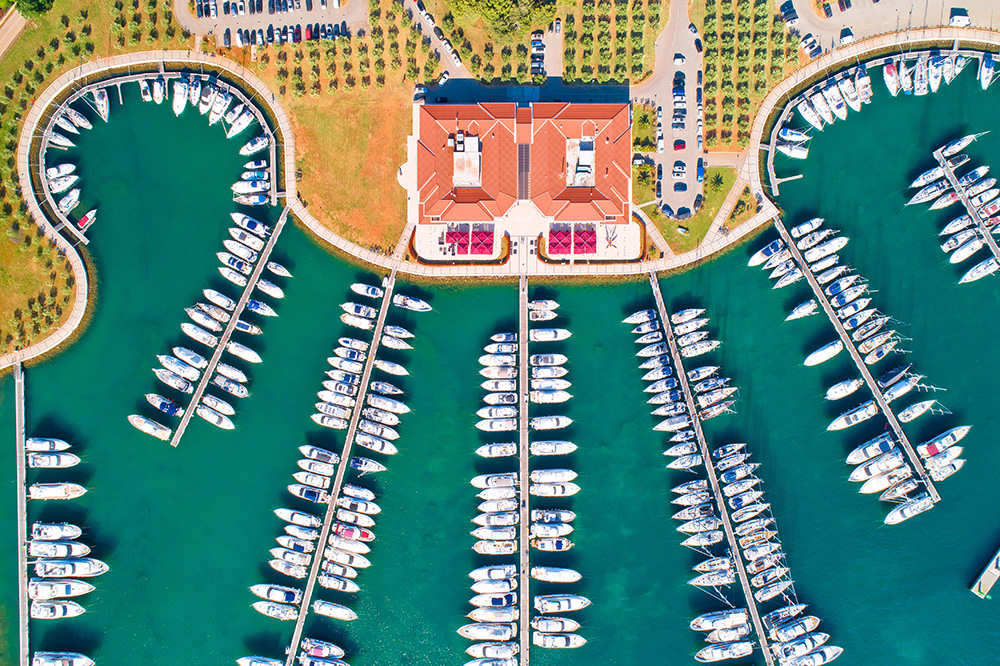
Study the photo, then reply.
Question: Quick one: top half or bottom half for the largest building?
top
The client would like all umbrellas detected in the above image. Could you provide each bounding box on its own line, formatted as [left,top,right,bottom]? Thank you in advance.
[549,242,561,254]
[458,242,470,254]
[585,231,597,242]
[573,231,585,242]
[446,231,458,243]
[471,231,482,242]
[458,231,470,242]
[573,242,585,254]
[471,242,482,254]
[561,231,571,242]
[561,242,571,254]
[482,242,494,254]
[585,242,597,254]
[549,231,561,242]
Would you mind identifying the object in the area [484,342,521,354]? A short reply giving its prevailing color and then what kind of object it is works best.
white boat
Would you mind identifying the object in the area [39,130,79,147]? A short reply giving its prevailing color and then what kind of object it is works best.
white boat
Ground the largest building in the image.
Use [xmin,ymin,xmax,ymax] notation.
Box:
[417,102,631,227]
